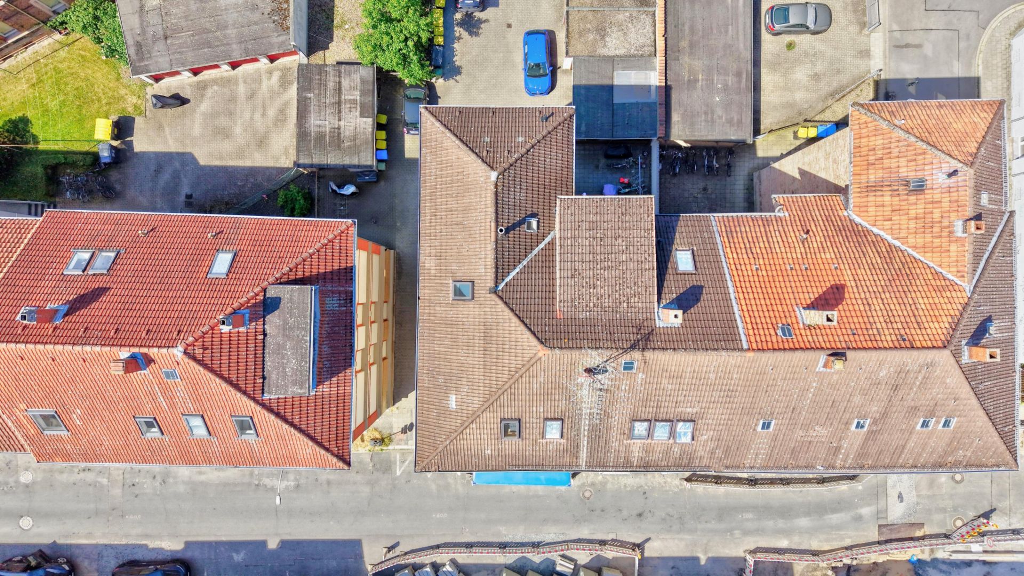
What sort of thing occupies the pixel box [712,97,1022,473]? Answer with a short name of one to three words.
house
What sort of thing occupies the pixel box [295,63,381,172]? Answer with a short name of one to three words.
shed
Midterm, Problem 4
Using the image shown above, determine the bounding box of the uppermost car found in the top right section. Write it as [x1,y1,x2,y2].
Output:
[768,0,835,35]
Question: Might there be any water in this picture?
No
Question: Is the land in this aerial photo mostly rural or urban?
urban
